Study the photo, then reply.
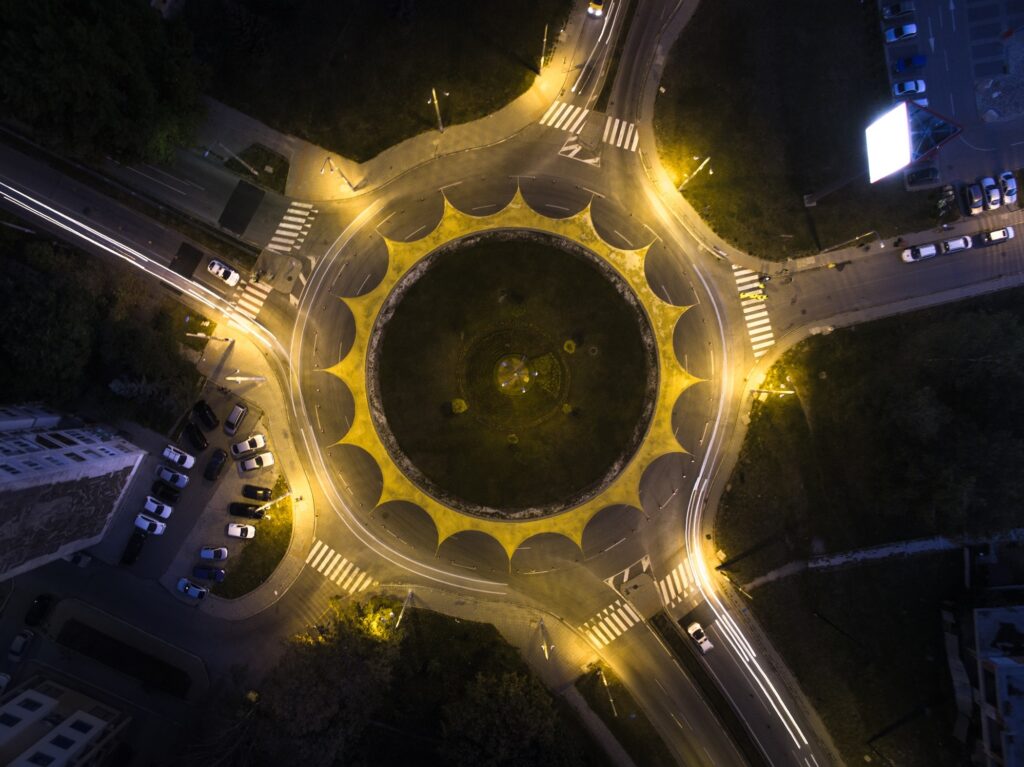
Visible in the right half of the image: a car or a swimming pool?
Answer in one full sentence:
Looking in the right half of the image, you will find a car.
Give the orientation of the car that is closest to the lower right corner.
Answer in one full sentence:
The car that is closest to the lower right corner is laid out at an angle.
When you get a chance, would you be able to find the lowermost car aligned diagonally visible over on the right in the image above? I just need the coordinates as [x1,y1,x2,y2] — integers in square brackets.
[686,621,714,654]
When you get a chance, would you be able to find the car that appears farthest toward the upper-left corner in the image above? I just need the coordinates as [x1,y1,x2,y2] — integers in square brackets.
[206,259,239,284]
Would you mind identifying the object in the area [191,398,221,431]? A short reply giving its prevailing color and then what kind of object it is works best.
black car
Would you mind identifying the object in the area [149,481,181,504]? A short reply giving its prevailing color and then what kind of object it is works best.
black car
